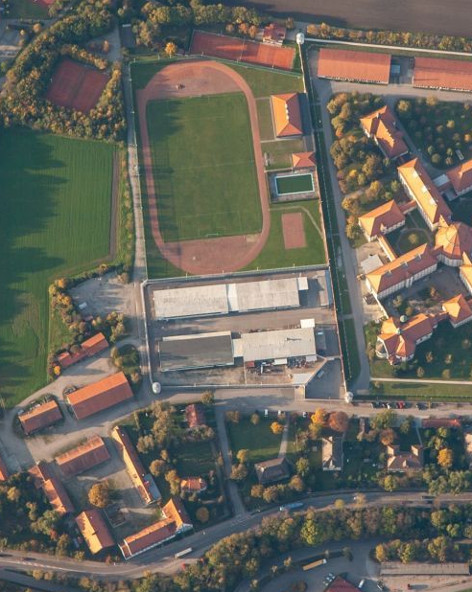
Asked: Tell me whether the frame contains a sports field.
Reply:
Yes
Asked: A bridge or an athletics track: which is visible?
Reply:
athletics track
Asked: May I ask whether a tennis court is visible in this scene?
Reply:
Yes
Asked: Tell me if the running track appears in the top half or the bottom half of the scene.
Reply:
top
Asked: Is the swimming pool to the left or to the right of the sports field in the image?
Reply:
to its right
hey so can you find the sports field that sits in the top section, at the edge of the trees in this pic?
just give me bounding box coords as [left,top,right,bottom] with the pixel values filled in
[146,92,263,242]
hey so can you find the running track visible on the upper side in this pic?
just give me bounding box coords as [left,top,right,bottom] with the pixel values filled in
[137,60,270,276]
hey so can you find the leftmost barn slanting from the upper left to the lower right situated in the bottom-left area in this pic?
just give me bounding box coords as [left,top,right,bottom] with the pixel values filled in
[31,460,68,513]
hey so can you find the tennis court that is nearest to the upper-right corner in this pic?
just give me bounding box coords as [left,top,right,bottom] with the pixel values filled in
[259,41,295,70]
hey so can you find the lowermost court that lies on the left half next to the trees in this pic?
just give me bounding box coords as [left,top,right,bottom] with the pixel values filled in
[45,58,110,110]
